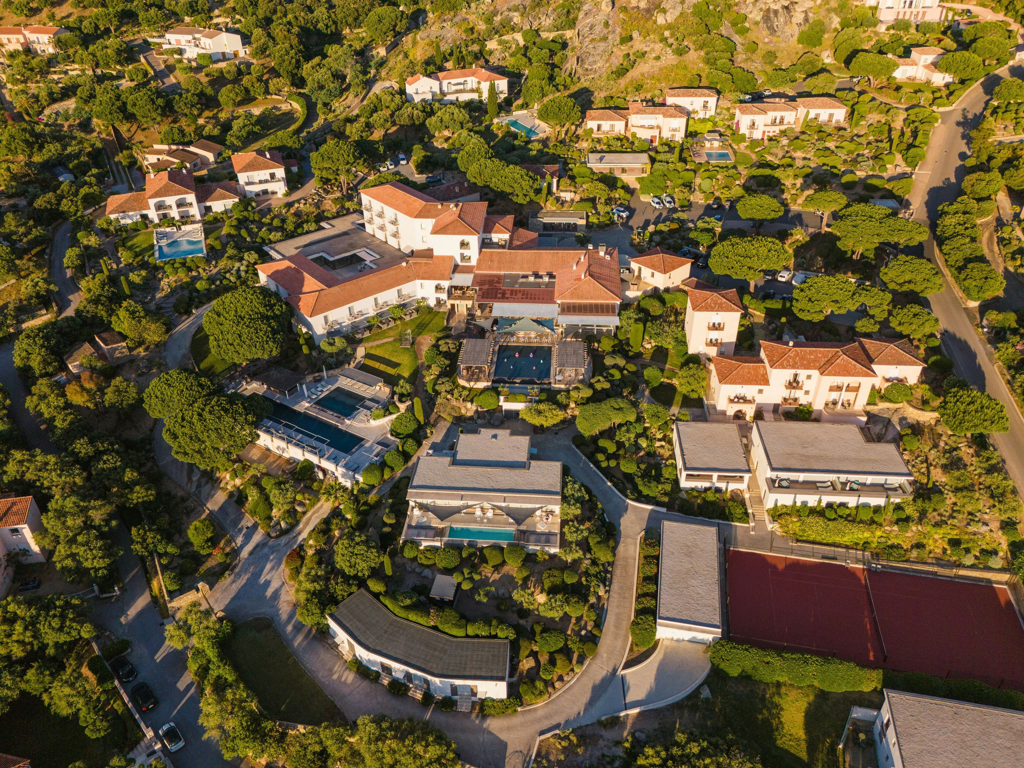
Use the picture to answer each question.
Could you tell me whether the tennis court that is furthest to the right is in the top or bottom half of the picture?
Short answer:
bottom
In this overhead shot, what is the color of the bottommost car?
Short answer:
black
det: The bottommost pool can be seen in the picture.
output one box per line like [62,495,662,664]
[444,523,518,544]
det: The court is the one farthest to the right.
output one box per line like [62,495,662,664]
[726,550,1024,677]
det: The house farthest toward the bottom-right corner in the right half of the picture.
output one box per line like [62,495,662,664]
[876,688,1024,768]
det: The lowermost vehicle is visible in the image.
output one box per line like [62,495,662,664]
[159,719,186,755]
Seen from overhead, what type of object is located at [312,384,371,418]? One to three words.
swimming pool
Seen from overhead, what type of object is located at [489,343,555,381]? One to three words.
swimming pool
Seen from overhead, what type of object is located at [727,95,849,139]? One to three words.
house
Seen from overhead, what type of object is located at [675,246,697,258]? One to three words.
vehicle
